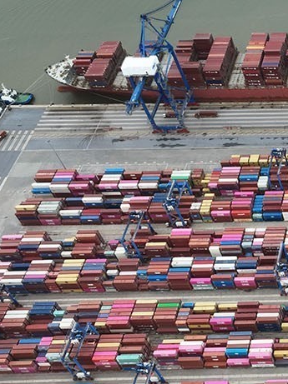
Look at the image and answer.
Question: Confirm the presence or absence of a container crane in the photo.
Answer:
Yes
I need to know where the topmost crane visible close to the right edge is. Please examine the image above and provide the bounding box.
[265,147,288,194]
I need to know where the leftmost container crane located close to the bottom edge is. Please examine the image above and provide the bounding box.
[61,322,100,382]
